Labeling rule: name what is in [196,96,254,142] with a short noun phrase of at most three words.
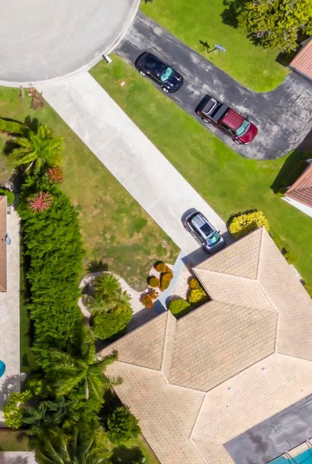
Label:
truck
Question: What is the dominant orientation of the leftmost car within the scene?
diagonally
